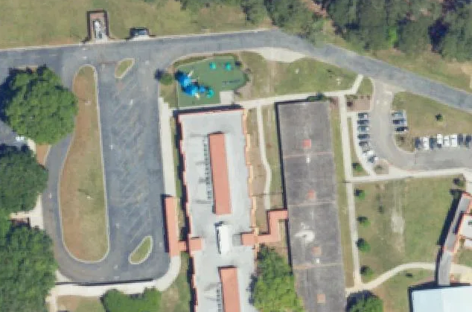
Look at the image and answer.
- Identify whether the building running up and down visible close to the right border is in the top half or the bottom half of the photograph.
bottom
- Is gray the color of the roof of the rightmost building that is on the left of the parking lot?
Yes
